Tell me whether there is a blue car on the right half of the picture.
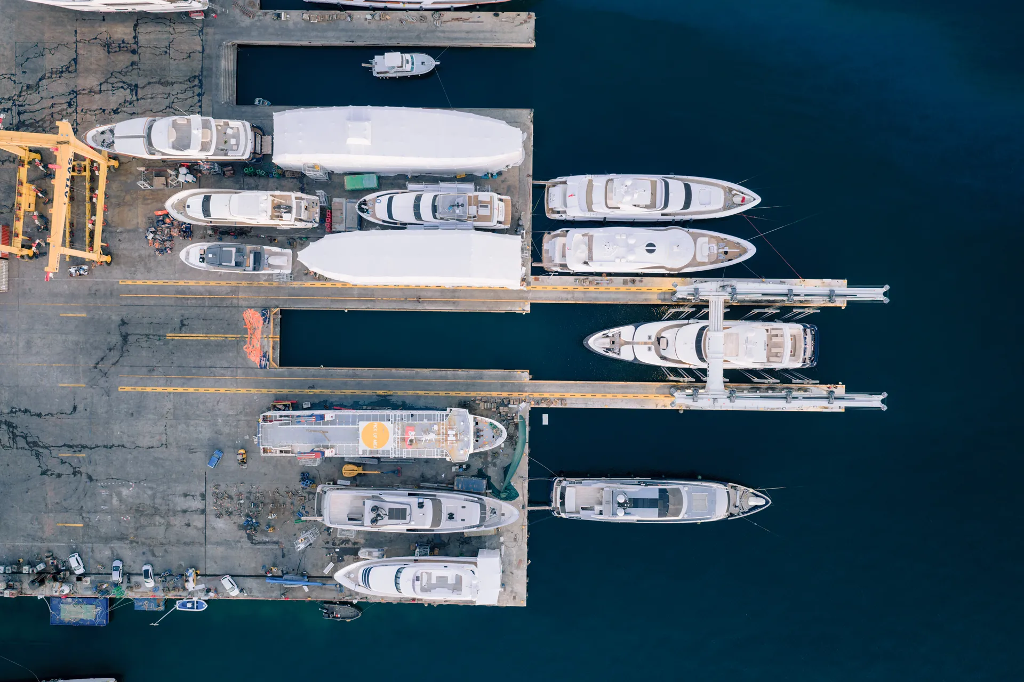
No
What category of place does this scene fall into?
port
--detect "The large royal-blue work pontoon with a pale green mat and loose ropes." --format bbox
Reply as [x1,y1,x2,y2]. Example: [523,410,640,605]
[50,597,112,626]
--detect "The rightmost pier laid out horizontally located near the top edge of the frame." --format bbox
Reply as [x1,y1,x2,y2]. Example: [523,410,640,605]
[260,9,535,50]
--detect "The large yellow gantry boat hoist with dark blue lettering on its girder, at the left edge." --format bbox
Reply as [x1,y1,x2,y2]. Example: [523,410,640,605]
[0,117,128,294]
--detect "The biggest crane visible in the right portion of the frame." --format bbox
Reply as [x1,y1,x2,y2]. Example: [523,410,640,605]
[658,281,889,412]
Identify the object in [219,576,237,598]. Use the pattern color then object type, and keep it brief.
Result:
white car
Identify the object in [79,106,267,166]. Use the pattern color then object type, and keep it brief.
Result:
white boat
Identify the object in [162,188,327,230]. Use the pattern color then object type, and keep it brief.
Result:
white boat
